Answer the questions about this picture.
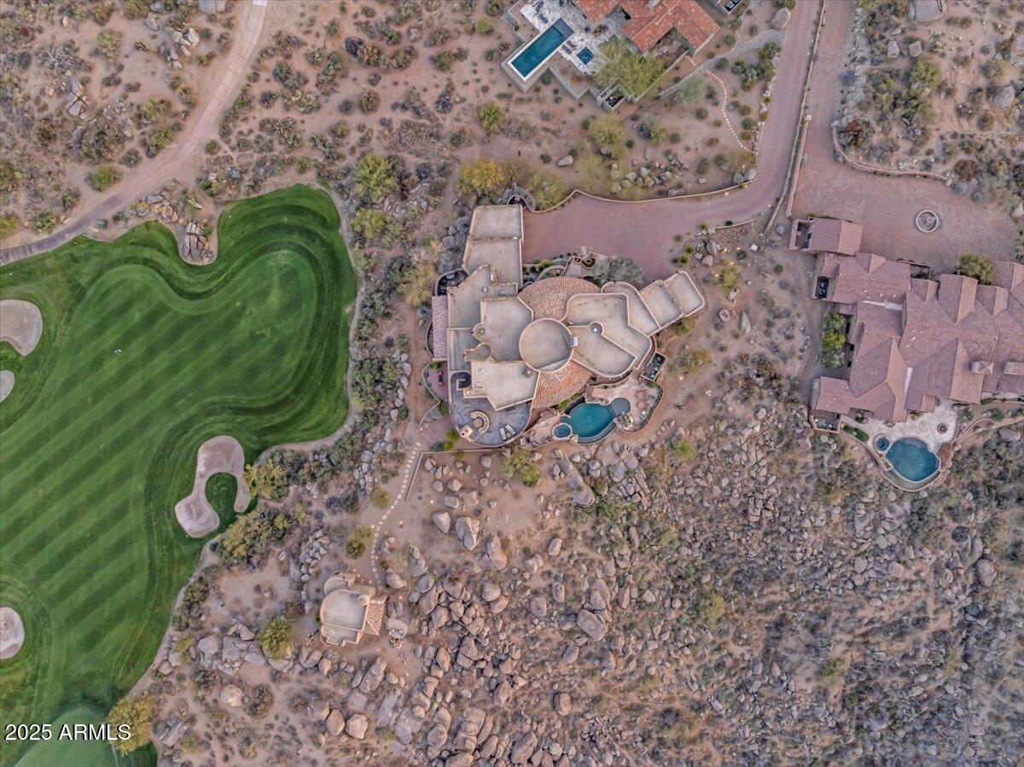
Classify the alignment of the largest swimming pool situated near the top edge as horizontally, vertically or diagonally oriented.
diagonally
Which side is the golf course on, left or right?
left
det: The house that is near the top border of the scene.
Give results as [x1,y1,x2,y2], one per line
[568,0,721,99]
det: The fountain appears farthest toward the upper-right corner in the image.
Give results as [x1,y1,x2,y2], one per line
[916,209,940,232]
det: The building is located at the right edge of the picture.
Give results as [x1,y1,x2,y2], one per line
[784,218,1024,433]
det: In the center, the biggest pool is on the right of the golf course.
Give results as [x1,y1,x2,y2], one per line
[559,395,632,443]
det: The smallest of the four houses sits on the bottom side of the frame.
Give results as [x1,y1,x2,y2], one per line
[319,569,391,648]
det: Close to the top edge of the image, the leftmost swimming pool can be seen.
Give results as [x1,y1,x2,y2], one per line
[508,13,578,82]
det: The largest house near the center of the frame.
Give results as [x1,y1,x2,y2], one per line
[432,205,704,446]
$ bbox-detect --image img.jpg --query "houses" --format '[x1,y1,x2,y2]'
[568,0,721,99]
[784,218,1024,433]
[432,205,704,446]
[319,569,391,648]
